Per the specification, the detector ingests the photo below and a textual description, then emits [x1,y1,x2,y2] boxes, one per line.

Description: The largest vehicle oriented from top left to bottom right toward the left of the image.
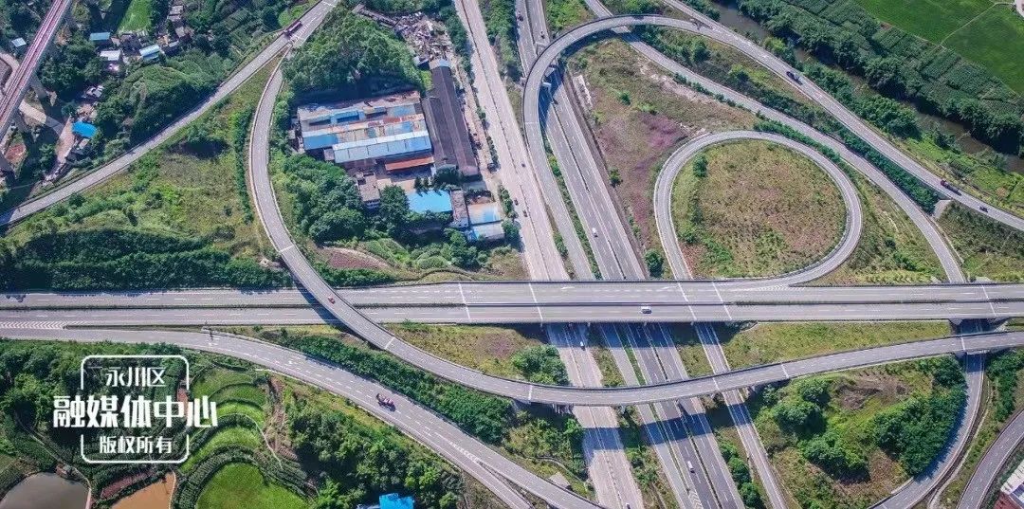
[377,392,394,407]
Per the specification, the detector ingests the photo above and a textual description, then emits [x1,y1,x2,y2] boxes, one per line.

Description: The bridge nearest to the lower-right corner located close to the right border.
[941,331,1004,353]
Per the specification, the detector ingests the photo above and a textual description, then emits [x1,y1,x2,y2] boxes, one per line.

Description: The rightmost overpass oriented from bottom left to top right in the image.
[523,13,655,153]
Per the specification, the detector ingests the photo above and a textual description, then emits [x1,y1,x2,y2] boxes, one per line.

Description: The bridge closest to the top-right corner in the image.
[890,152,952,219]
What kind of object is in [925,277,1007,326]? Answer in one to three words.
overpass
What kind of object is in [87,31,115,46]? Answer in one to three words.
house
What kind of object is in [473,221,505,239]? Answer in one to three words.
shed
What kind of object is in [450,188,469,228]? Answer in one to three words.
building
